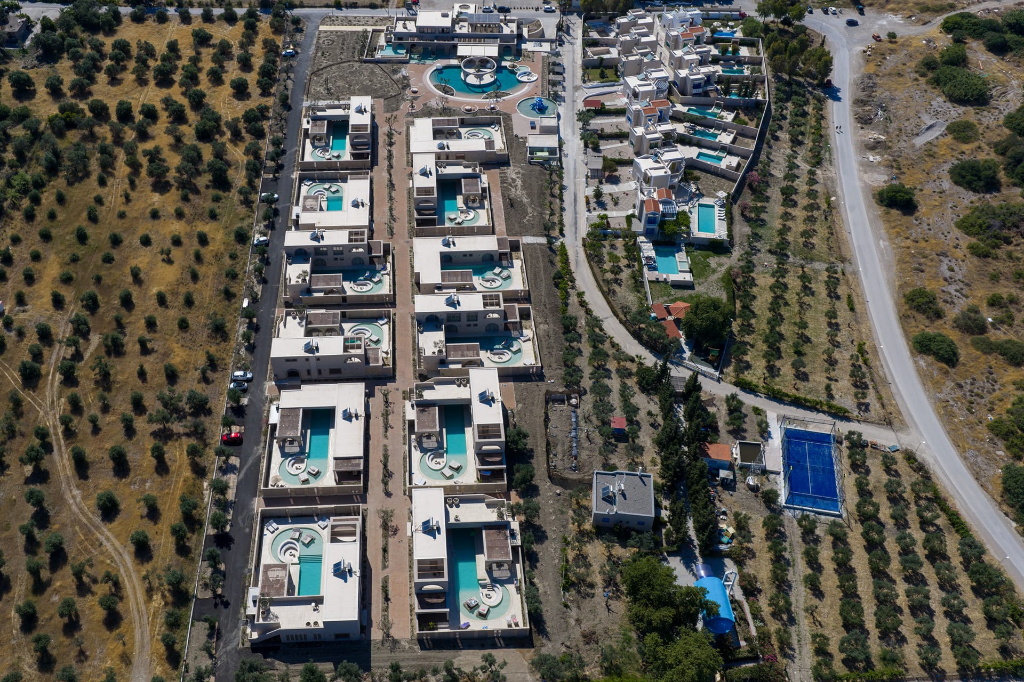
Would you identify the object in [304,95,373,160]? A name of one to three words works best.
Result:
house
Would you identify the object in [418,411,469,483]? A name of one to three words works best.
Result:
swimming pool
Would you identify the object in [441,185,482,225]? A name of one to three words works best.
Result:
swimming pool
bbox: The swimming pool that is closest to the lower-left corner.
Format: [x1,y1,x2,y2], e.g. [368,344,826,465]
[268,522,326,601]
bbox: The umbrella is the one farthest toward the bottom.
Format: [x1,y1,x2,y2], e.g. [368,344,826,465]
[269,471,284,484]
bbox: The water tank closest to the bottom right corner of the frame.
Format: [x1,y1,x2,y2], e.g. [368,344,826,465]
[733,441,764,470]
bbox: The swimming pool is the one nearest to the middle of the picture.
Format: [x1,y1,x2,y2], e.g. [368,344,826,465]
[445,334,524,366]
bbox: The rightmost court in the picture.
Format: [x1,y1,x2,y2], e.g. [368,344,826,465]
[778,415,844,514]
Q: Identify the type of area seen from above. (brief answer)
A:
residential area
